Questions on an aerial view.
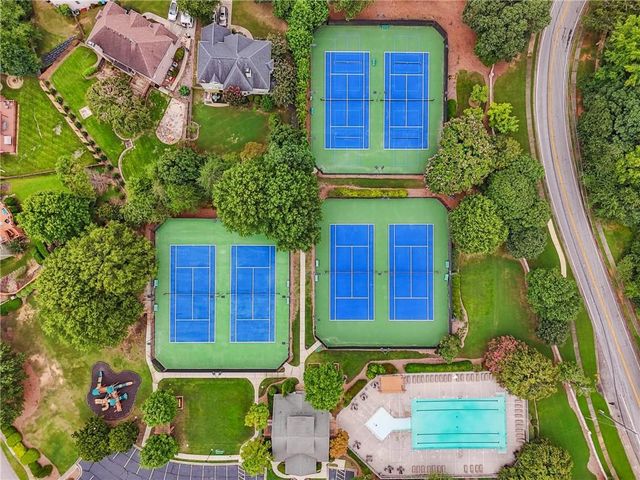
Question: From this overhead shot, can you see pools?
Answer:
Yes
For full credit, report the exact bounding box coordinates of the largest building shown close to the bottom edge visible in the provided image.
[271,393,331,476]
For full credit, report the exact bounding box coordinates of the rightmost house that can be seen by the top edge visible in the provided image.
[198,22,274,94]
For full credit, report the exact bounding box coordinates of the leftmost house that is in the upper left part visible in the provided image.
[86,0,182,82]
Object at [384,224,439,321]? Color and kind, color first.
blue tennis court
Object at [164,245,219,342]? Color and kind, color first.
blue tennis court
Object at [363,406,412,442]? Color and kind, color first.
white swimming pool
